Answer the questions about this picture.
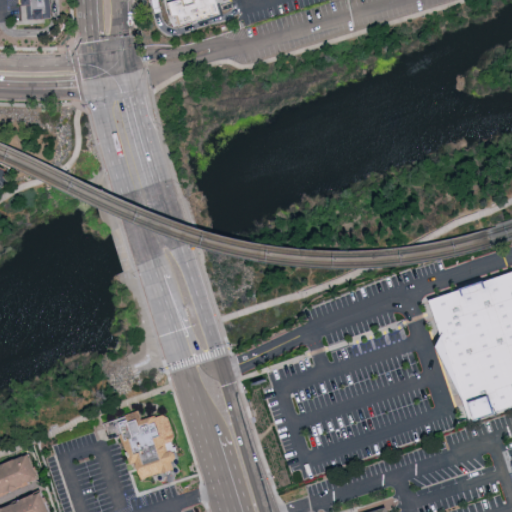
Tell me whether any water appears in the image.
Yes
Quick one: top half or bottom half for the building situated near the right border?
bottom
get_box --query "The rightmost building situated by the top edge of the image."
[165,0,222,29]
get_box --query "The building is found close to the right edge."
[426,270,512,420]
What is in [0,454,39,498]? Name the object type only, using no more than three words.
building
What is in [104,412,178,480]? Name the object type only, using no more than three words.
building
